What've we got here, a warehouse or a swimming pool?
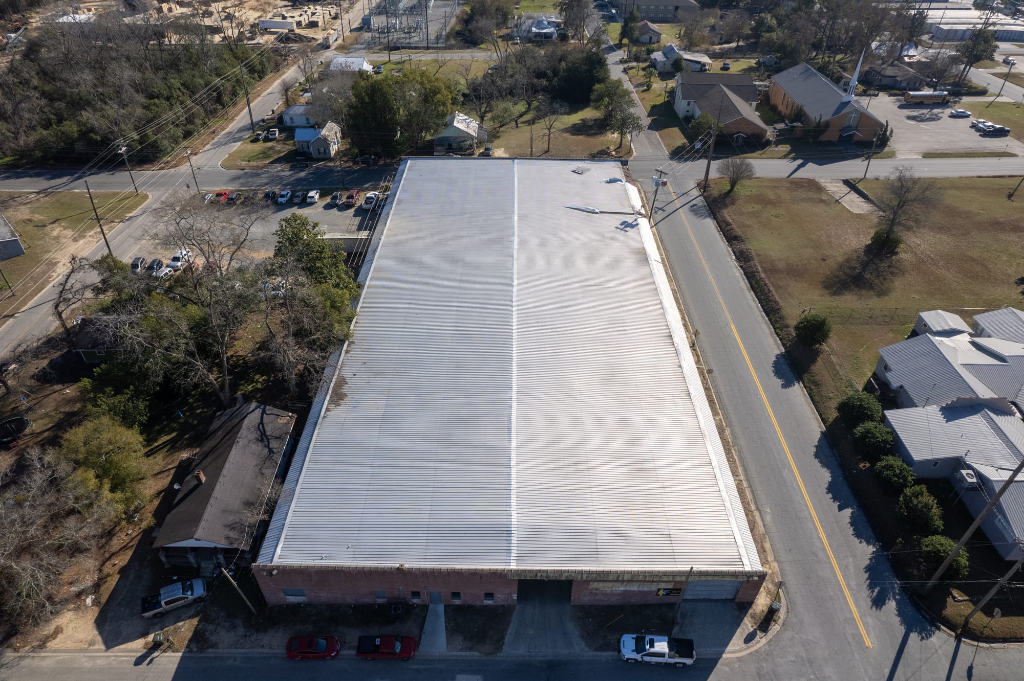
warehouse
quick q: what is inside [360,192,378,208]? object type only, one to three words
vehicle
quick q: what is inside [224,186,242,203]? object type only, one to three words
car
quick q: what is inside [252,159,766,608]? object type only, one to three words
warehouse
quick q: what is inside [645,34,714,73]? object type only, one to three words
house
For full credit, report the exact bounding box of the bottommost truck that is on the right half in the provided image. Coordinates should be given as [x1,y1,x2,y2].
[622,638,696,674]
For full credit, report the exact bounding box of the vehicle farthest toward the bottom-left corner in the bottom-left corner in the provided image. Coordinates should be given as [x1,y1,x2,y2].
[138,582,207,621]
